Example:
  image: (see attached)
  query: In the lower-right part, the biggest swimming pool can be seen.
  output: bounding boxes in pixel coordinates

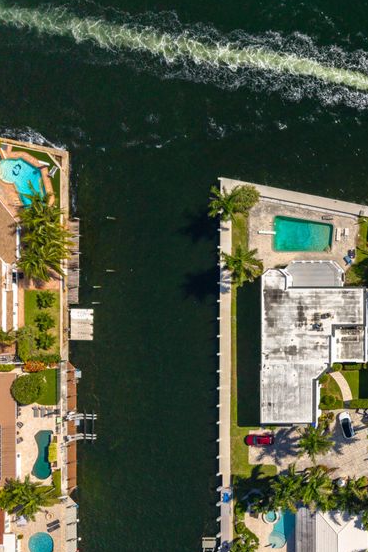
[267,505,296,549]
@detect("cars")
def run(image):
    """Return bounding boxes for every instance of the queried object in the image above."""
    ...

[337,410,354,440]
[244,433,272,448]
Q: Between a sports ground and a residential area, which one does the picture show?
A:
residential area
